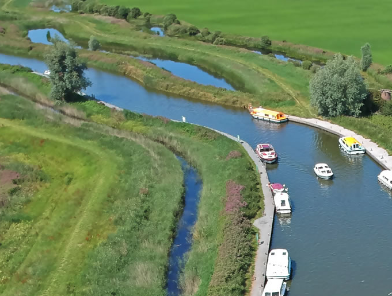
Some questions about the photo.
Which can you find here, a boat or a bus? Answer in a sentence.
Looking from above, you can make out a boat.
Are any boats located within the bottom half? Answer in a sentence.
Yes, a boat can be seen within the bottom half.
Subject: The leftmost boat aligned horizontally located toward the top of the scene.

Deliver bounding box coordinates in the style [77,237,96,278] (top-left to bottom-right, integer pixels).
[245,105,289,122]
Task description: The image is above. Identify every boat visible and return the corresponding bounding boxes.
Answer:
[262,272,289,296]
[262,244,295,285]
[273,191,294,218]
[245,105,289,122]
[337,133,366,155]
[311,159,332,182]
[371,167,392,192]
[253,139,281,165]
[271,179,285,196]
